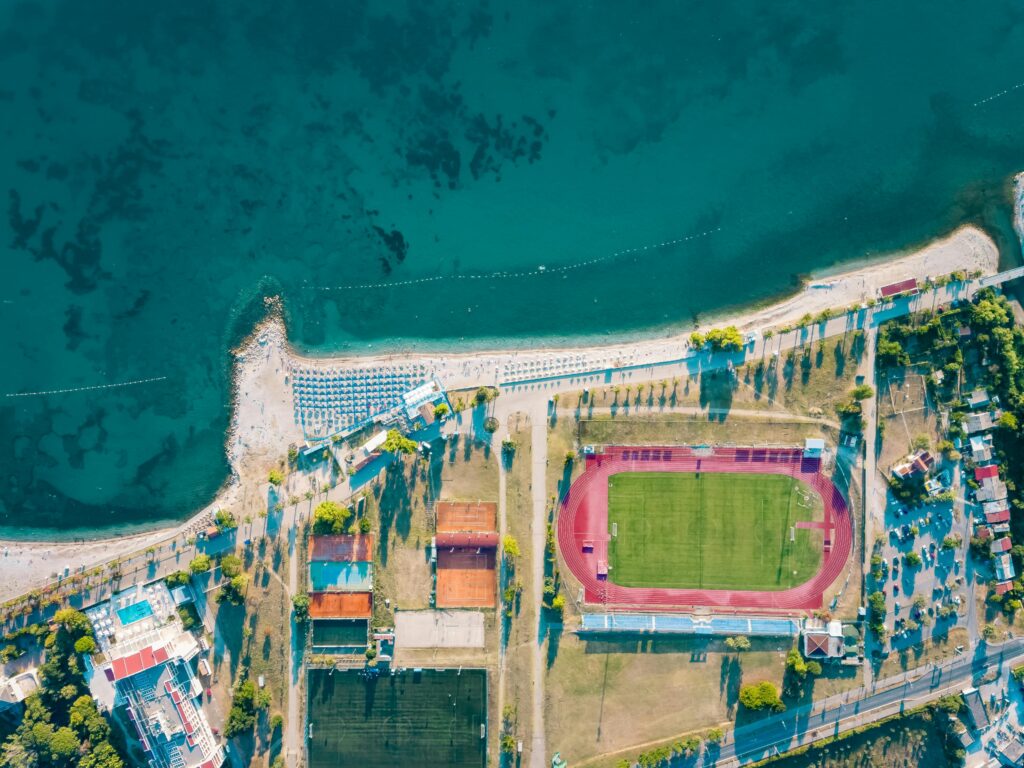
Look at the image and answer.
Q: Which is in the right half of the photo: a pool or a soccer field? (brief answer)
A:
soccer field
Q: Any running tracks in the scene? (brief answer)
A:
Yes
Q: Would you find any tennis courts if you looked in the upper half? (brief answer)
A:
No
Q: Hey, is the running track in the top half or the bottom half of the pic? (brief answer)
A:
bottom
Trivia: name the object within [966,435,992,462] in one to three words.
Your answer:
house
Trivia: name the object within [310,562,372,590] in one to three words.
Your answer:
tennis court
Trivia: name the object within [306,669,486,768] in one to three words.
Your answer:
soccer field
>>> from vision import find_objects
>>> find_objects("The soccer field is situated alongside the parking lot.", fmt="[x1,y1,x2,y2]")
[609,473,836,587]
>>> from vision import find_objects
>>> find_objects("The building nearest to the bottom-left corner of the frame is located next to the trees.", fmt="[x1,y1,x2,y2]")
[0,664,41,704]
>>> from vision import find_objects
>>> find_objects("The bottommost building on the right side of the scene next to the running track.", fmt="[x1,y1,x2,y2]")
[803,617,845,657]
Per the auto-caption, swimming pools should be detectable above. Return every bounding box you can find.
[117,600,152,624]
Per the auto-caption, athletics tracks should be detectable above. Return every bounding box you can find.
[558,447,853,611]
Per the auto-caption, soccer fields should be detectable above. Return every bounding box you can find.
[306,669,486,768]
[609,473,836,587]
